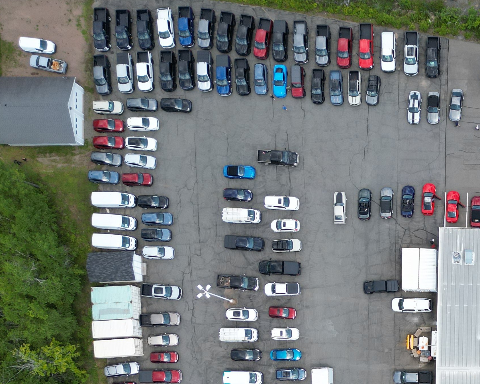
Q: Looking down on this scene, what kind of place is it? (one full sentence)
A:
This image shows a parking lot.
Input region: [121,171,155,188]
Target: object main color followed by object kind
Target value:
red car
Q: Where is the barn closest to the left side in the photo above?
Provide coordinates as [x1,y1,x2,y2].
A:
[0,76,84,149]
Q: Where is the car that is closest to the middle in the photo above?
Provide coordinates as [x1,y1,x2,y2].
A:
[222,187,253,203]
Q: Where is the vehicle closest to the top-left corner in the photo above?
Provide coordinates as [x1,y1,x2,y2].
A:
[17,36,59,57]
